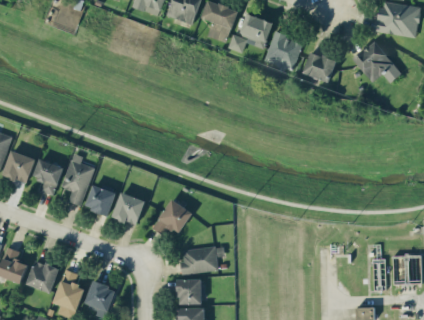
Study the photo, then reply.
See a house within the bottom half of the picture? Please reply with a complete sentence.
Yes, within the bottom half of the picture there is a house.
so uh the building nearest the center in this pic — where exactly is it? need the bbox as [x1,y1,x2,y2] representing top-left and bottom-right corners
[152,200,192,234]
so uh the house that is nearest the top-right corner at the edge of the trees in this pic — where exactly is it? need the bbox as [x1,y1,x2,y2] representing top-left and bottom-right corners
[376,2,419,36]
